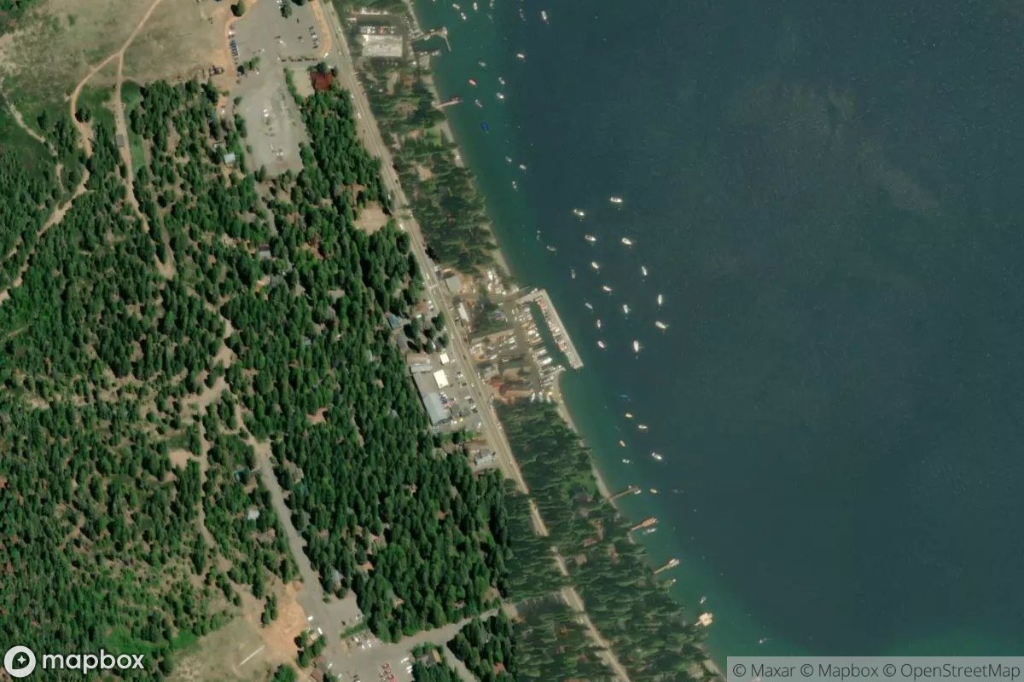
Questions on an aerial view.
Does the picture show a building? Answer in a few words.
Yes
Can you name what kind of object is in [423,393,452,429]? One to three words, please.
building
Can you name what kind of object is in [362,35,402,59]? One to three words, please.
building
